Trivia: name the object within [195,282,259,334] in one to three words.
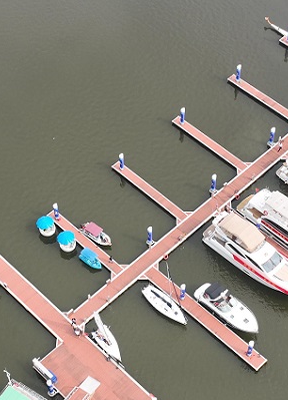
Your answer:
boat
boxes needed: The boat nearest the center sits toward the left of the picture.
[80,220,109,247]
